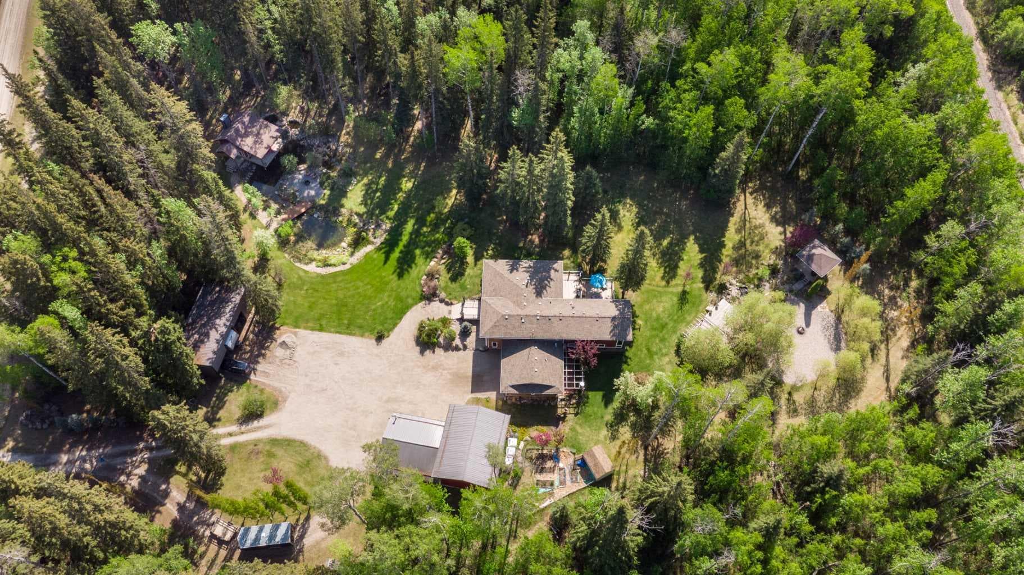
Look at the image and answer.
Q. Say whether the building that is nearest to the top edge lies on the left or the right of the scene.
left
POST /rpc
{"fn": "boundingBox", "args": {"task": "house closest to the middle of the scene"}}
[479,259,632,397]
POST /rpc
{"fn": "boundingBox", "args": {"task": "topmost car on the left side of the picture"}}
[220,357,255,375]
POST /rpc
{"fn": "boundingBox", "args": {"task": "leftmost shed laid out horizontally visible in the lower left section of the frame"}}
[237,522,293,549]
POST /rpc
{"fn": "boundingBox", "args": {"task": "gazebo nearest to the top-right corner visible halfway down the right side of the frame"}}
[795,239,842,280]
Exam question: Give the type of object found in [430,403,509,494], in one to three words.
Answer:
building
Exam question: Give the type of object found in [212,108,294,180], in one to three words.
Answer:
building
